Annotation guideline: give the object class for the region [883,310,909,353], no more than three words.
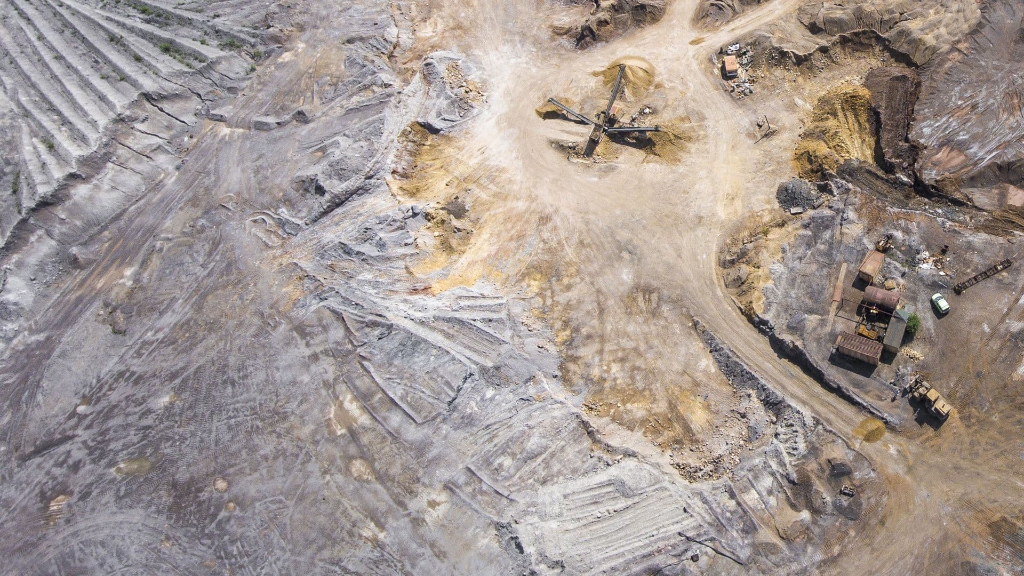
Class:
shed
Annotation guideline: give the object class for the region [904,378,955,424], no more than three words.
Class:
work vehicle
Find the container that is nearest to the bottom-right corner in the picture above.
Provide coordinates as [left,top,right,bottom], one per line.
[839,334,883,366]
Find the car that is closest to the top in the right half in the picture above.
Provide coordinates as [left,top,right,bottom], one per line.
[931,294,950,318]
